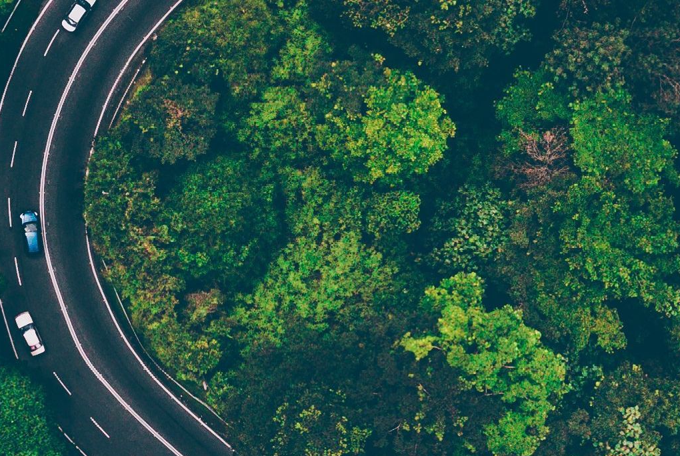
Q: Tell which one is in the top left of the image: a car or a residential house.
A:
car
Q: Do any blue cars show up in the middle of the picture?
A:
No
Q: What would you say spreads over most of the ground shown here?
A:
trees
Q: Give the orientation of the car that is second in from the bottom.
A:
vertically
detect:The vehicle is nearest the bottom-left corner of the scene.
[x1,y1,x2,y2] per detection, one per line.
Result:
[15,312,46,356]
